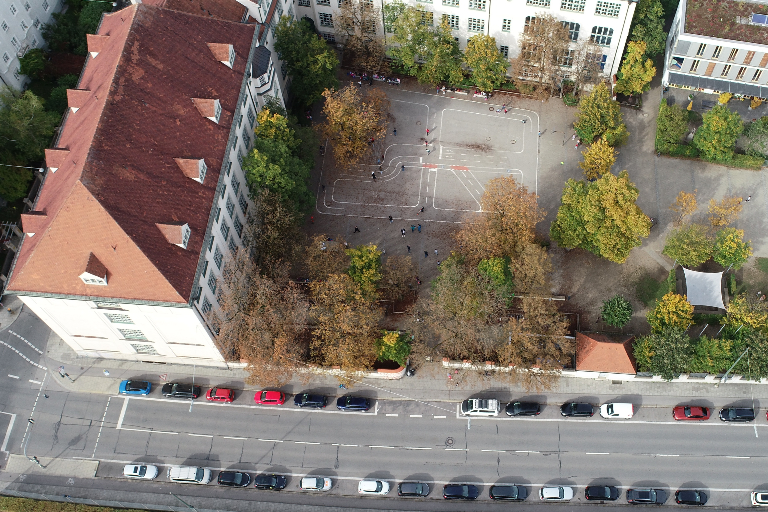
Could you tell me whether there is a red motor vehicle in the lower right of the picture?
Yes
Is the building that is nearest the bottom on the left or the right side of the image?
right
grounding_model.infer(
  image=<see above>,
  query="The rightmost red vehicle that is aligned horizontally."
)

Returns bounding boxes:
[672,405,710,423]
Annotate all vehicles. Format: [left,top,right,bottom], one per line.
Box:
[539,486,573,504]
[506,401,541,419]
[397,481,430,499]
[293,391,330,409]
[719,406,755,424]
[162,382,202,402]
[627,488,668,506]
[585,485,618,503]
[216,471,252,489]
[121,464,160,483]
[119,379,152,397]
[253,473,288,492]
[460,398,499,418]
[253,391,286,407]
[166,466,212,487]
[674,489,707,507]
[490,484,528,503]
[443,483,479,502]
[357,479,391,496]
[749,493,768,508]
[299,475,333,493]
[672,405,710,423]
[337,395,372,413]
[561,402,594,419]
[599,402,635,420]
[206,387,236,405]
